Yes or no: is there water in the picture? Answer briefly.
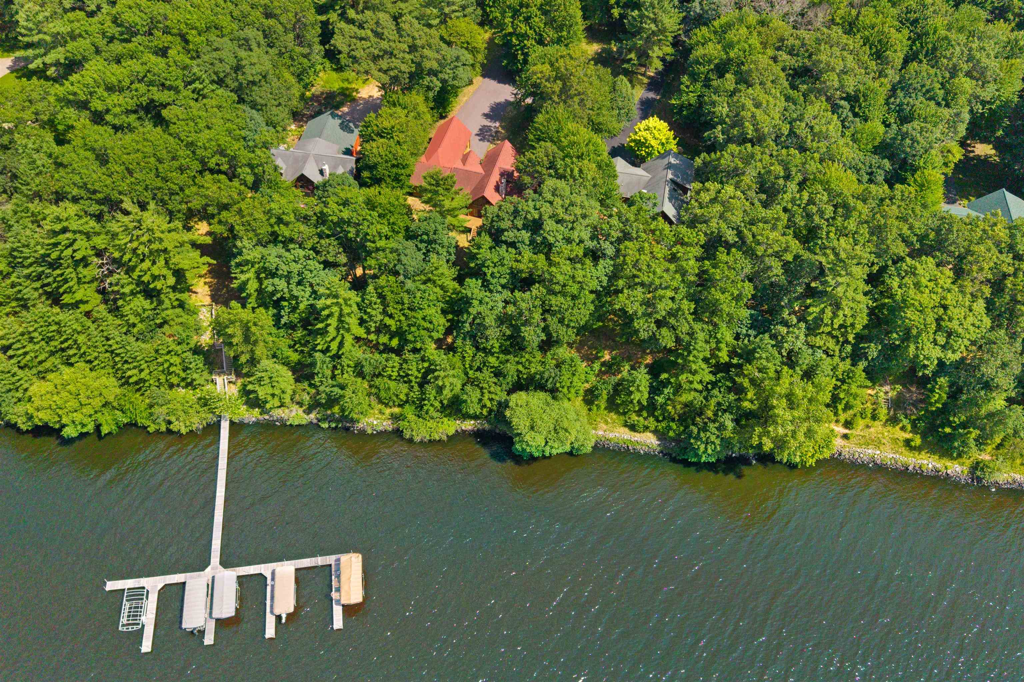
Yes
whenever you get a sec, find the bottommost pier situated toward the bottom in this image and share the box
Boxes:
[103,420,354,653]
